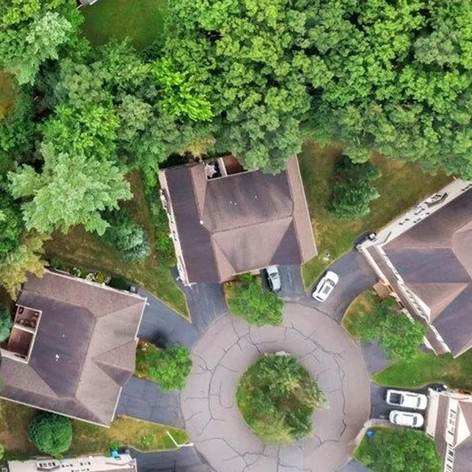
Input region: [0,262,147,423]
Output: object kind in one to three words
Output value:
house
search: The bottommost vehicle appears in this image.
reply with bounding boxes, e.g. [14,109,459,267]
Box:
[390,411,426,431]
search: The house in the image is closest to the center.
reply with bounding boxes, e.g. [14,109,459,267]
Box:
[157,152,317,286]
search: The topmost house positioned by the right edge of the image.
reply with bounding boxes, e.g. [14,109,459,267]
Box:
[359,178,472,357]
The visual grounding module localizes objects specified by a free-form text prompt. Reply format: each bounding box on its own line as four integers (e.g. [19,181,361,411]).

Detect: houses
[420,388,472,472]
[8,454,137,472]
[0,262,147,423]
[359,178,472,357]
[157,152,317,286]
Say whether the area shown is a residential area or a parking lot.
residential area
